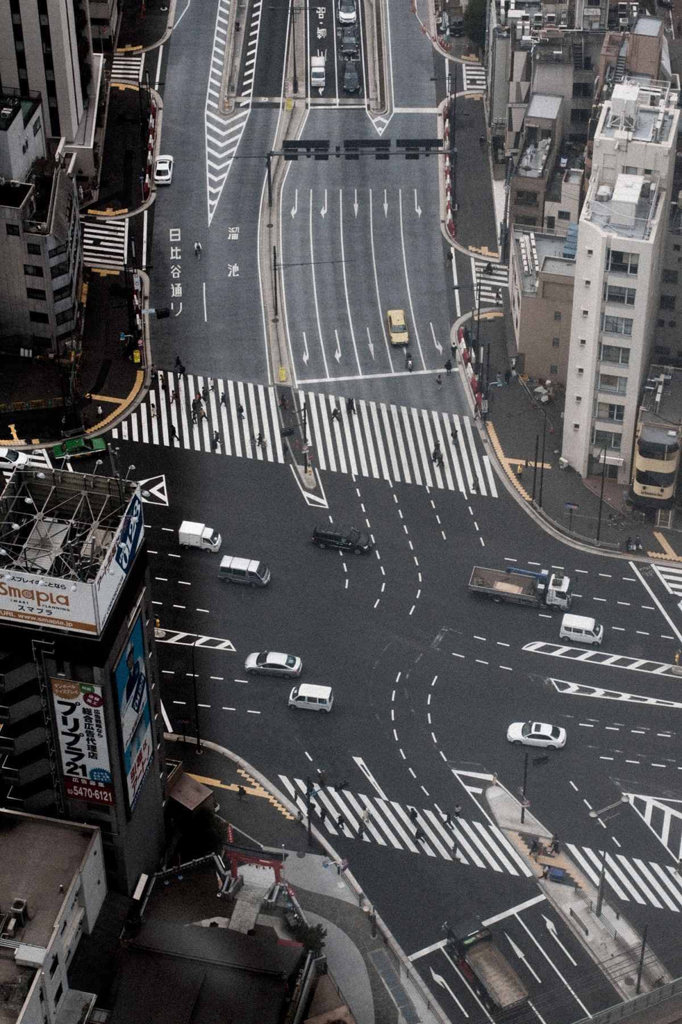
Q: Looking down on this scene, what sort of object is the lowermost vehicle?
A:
truck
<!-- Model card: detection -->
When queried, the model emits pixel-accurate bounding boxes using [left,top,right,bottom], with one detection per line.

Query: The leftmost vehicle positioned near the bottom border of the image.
[442,911,525,1018]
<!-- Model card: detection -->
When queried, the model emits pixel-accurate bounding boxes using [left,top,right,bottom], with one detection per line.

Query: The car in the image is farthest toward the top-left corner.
[153,155,173,183]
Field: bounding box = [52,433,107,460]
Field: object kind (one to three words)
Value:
car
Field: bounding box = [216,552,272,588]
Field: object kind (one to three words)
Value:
van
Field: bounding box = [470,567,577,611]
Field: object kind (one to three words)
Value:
truck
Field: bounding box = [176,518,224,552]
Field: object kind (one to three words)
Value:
truck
